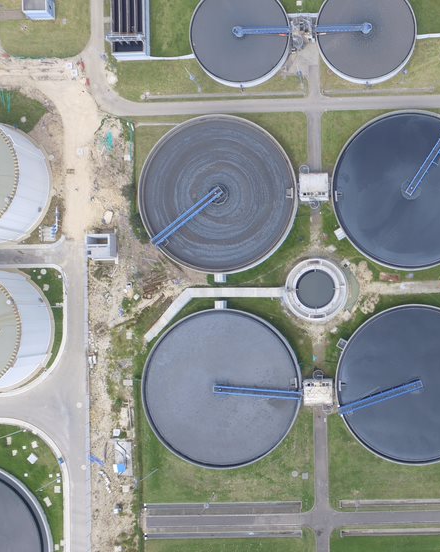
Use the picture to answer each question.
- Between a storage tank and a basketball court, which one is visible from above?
storage tank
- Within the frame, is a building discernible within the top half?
Yes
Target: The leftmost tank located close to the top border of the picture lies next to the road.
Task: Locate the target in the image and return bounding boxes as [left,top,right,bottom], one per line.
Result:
[188,0,292,88]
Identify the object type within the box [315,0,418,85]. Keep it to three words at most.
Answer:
storage tank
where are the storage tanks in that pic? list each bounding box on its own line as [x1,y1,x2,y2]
[0,268,55,388]
[336,305,440,465]
[188,0,292,88]
[0,468,54,552]
[141,308,302,468]
[331,110,440,270]
[137,113,299,274]
[315,0,418,85]
[0,125,54,245]
[285,258,347,320]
